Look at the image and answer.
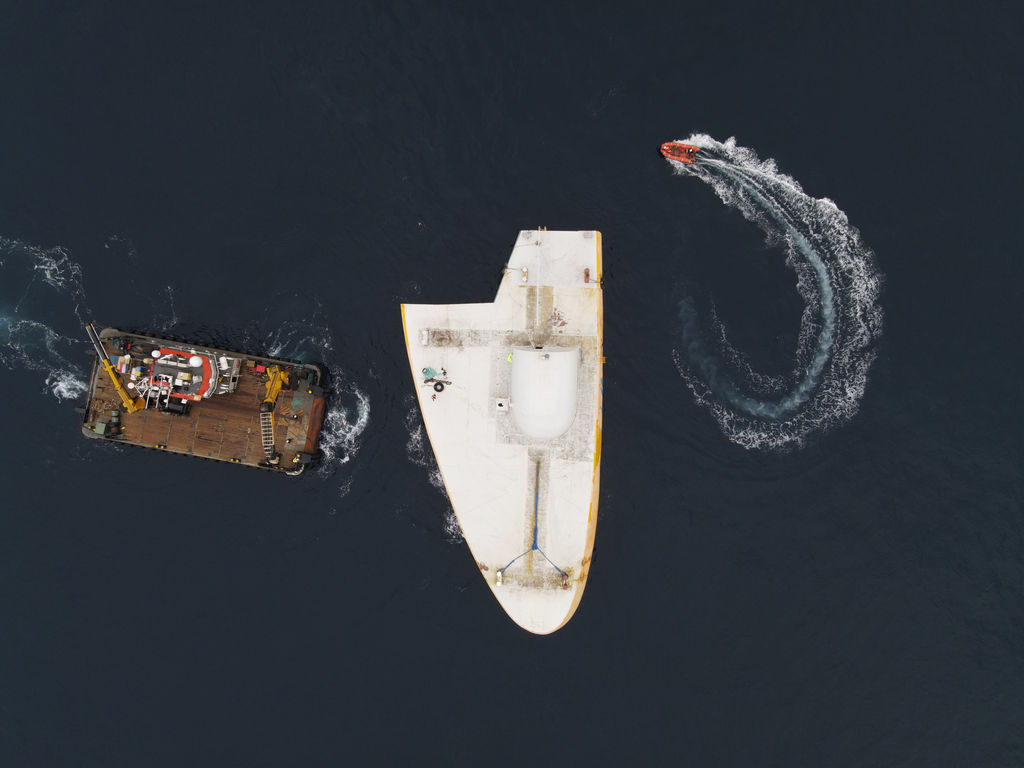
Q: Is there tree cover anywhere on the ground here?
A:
No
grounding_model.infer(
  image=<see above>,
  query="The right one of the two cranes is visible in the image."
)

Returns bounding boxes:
[260,366,292,464]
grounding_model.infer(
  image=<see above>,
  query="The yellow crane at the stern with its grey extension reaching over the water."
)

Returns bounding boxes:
[84,321,147,413]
